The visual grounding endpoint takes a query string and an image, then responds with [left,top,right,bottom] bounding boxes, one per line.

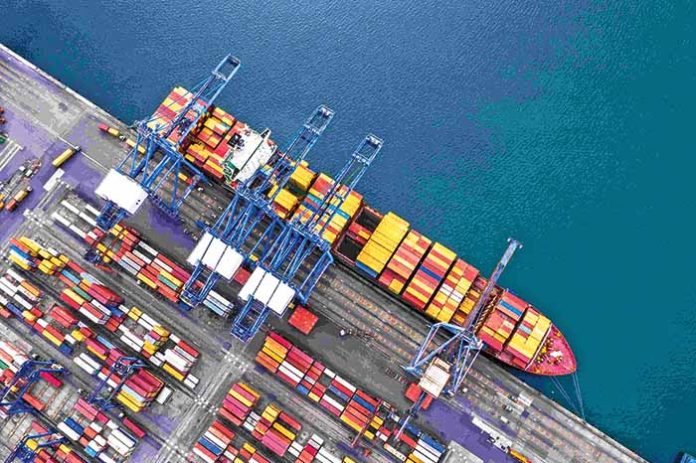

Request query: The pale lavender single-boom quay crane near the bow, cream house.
[392,238,523,453]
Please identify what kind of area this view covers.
port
